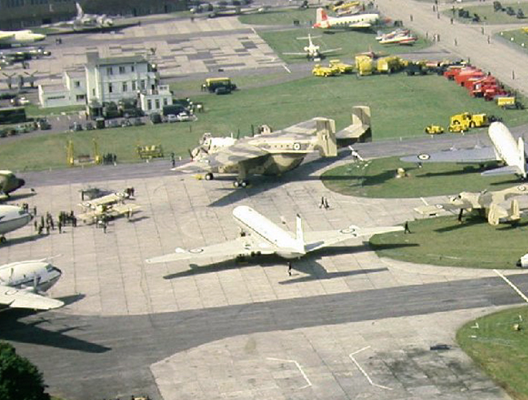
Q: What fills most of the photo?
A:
paved ground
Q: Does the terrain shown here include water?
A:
No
